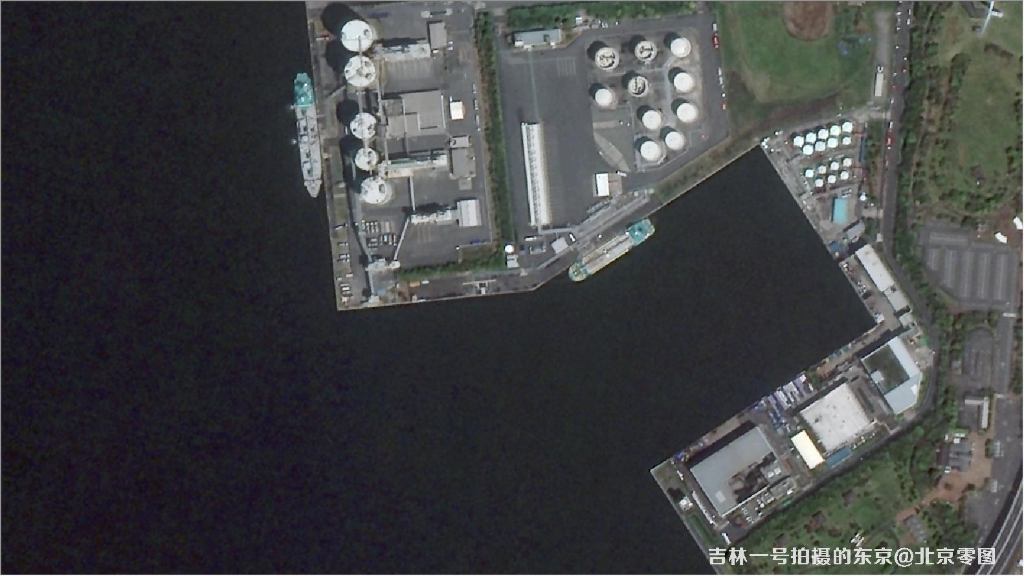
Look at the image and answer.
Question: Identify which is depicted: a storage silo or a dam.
storage silo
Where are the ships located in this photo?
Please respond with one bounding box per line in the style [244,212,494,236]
[294,70,326,197]
[557,214,655,281]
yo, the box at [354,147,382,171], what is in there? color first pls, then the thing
white silo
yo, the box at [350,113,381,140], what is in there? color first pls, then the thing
white silo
